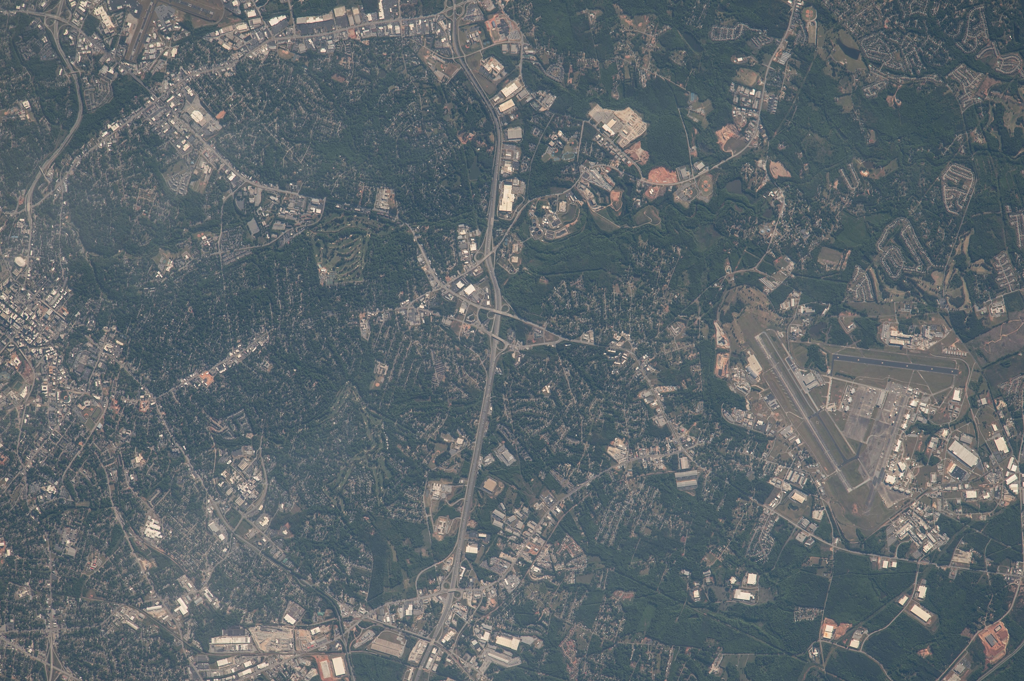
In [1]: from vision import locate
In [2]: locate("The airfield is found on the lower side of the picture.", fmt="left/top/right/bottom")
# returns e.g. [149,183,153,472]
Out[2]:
[724,287,968,542]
